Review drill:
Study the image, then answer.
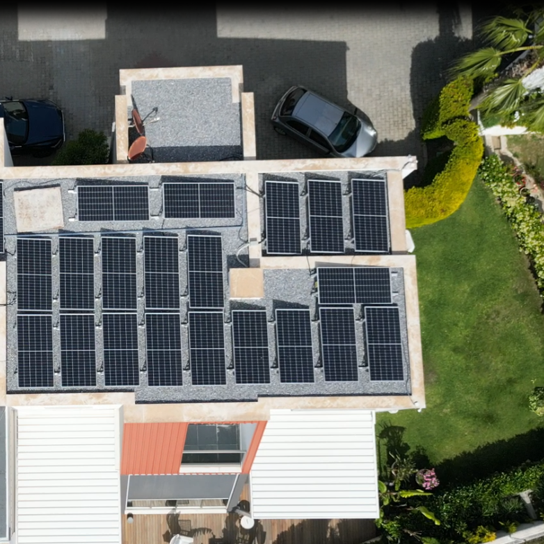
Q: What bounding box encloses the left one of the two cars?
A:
[0,96,63,158]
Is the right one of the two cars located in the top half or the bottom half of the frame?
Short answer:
top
